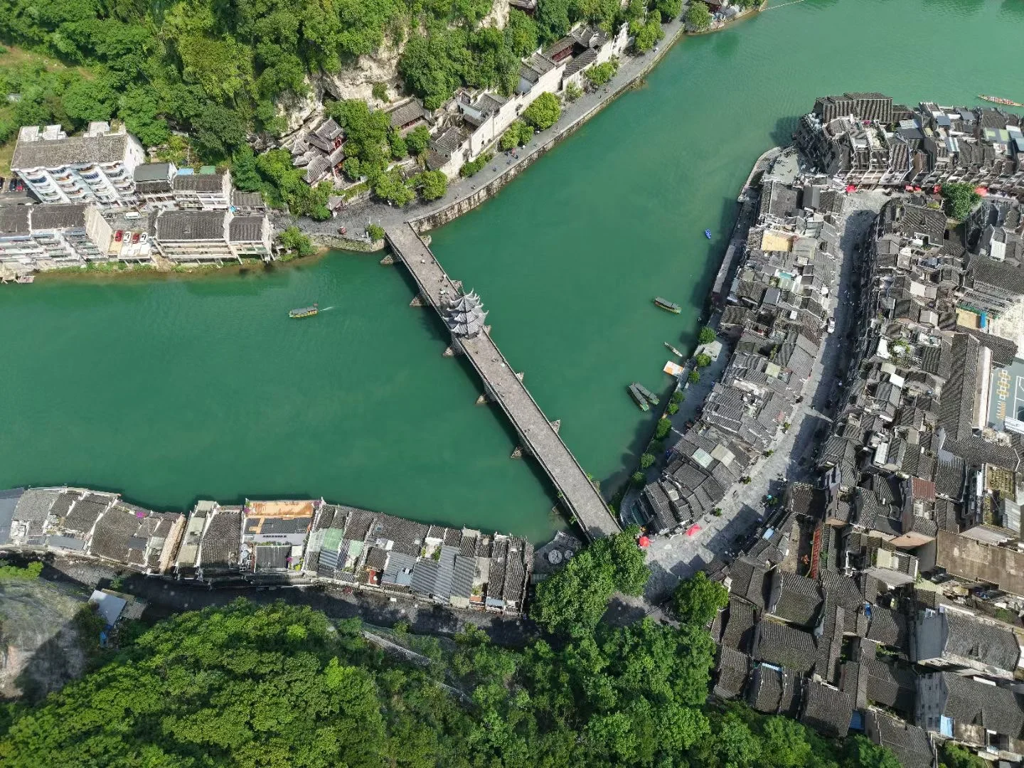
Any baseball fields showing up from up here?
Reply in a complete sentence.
No, there's no baseball field here.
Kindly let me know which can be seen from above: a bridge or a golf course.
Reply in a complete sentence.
There is a bridge in the scene.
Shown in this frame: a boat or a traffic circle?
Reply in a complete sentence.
The image shows a boat.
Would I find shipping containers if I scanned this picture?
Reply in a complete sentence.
No, there appears to be no shipping container in this shot.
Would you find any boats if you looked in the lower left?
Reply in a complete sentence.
No, no boat appears in the lower left.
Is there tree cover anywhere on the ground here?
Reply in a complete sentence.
Yes, some tree cover is visible.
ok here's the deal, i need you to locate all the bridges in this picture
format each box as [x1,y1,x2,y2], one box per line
[382,219,615,541]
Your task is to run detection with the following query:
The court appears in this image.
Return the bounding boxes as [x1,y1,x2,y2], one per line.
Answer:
[986,356,1024,428]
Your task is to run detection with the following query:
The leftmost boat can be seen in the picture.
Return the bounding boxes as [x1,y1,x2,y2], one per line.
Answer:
[287,303,318,316]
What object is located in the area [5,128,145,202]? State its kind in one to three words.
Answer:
building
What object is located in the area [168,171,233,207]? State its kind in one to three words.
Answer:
house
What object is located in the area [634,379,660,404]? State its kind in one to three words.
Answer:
boat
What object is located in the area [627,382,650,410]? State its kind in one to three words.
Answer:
boat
